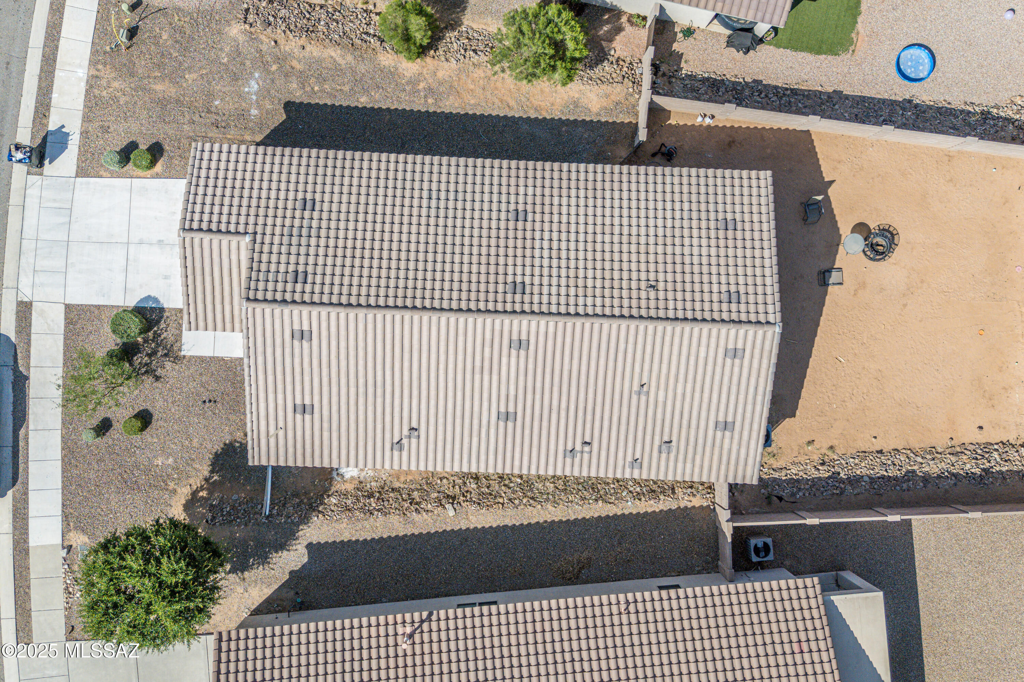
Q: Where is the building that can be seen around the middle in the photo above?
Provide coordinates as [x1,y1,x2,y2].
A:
[177,141,782,486]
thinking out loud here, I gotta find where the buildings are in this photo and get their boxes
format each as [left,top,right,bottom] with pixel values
[177,141,782,486]
[594,0,793,47]
[213,568,889,682]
